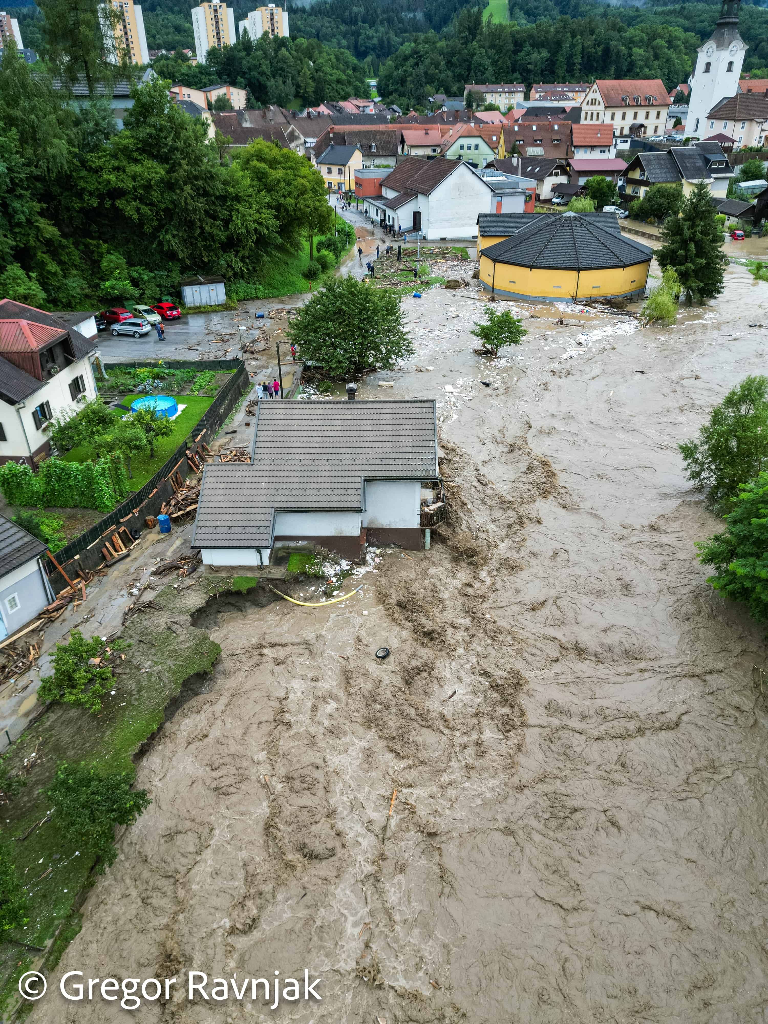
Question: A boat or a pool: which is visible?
pool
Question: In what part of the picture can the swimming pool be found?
left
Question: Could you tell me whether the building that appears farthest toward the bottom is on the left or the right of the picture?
left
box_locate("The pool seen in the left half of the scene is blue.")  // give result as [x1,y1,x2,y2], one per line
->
[127,391,180,422]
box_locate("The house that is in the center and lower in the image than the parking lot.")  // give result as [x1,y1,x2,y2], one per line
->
[189,377,448,568]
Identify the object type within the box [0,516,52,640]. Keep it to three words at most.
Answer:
building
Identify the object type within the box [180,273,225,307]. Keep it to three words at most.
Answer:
shed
